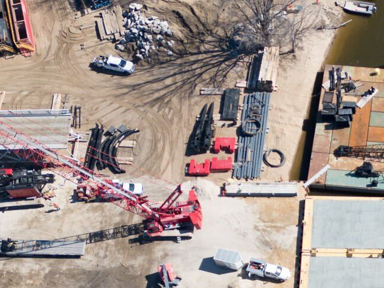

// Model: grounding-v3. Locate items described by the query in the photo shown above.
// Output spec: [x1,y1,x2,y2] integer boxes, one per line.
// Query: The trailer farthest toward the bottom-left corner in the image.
[0,239,85,260]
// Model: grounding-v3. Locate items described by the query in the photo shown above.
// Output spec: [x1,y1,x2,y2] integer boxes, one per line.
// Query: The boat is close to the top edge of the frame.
[343,1,377,17]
